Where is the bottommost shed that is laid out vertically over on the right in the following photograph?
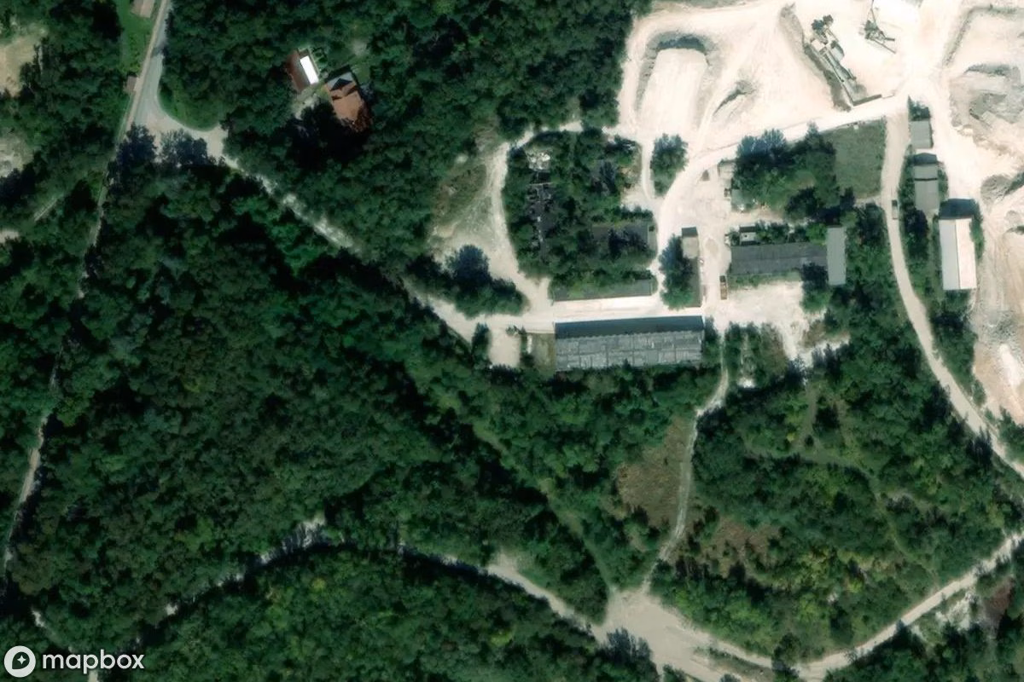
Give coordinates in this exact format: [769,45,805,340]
[686,259,702,308]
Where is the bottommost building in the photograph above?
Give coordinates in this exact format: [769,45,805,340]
[555,333,704,372]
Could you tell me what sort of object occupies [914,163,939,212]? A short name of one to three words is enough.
building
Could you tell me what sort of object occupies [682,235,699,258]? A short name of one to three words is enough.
building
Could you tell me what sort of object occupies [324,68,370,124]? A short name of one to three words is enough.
house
